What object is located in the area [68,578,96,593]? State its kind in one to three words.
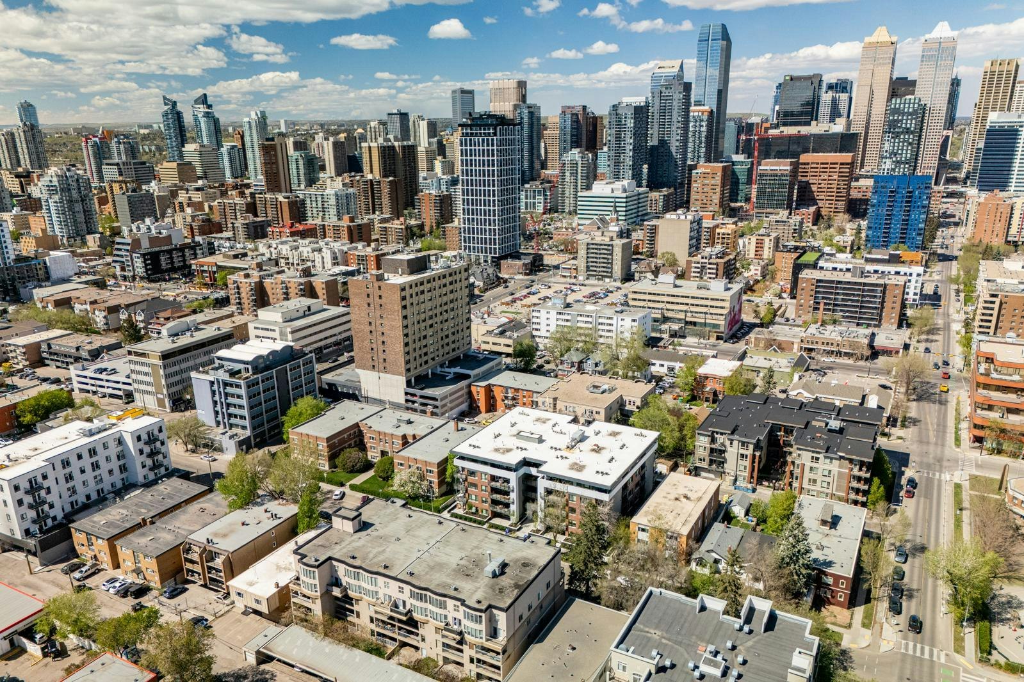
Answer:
vehicle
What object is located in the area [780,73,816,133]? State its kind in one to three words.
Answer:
building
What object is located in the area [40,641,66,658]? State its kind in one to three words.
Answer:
car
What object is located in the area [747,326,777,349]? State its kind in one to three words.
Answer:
building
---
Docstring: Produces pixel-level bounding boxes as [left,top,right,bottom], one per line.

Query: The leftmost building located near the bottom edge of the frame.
[0,583,46,650]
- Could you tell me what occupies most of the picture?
buildings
